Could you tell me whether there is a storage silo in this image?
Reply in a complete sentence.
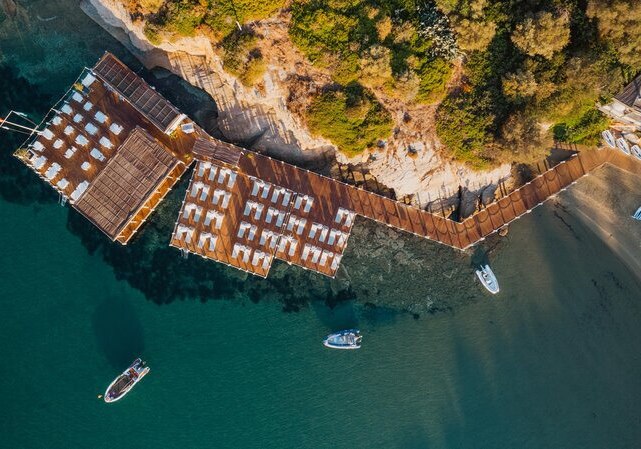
No, there is no storage silo in the image.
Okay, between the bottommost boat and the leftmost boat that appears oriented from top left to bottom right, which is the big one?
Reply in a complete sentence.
The larger object is the bottommost boat, with the leftmost boat that appears oriented from top left to bottom right being the smaller of the pair.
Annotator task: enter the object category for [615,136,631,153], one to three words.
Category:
boat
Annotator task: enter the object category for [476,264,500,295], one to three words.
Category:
boat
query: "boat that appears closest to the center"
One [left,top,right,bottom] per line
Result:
[322,333,363,351]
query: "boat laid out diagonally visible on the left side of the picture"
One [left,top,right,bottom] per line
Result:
[102,359,148,403]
